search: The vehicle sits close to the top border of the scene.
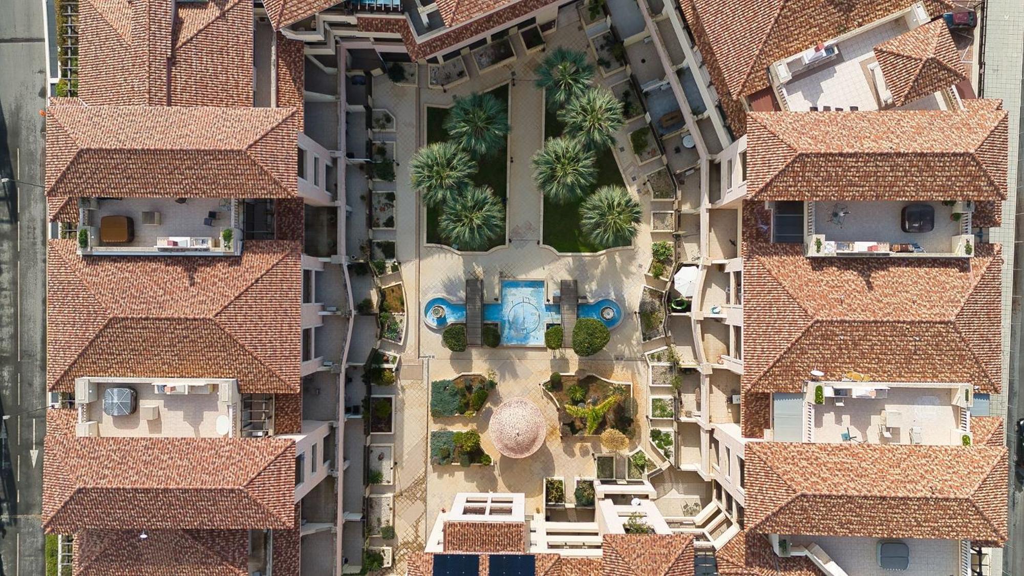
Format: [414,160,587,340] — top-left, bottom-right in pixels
[937,7,975,33]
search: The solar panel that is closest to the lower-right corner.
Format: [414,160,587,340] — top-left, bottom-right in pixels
[489,554,535,576]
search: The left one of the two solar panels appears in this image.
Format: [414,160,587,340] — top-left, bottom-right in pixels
[433,554,479,576]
